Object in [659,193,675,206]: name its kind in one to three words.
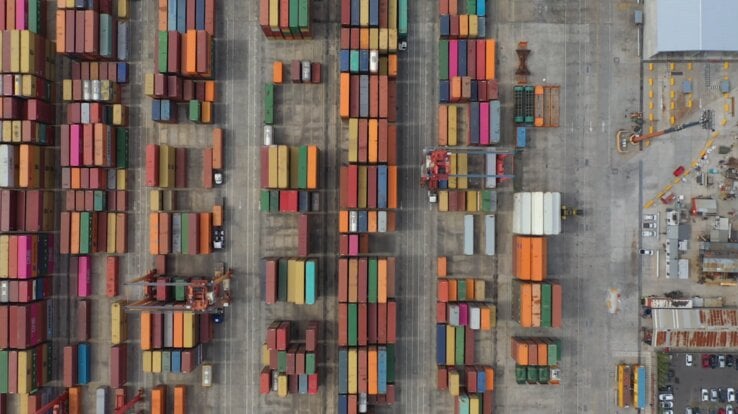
vehicle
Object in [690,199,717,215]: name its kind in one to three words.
shed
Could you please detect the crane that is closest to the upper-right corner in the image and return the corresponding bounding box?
[616,108,717,151]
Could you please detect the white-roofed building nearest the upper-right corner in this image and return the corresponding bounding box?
[649,0,738,58]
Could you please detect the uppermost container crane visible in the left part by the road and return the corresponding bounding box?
[120,265,236,312]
